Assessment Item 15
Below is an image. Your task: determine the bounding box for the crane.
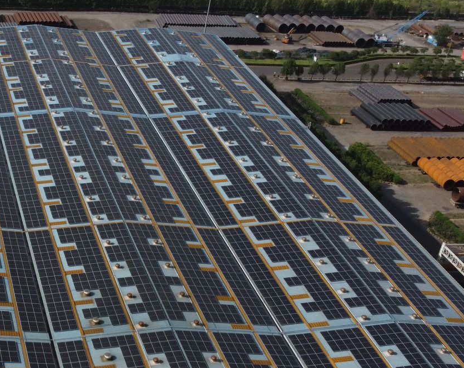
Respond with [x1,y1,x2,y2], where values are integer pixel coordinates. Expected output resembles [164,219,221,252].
[375,11,428,49]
